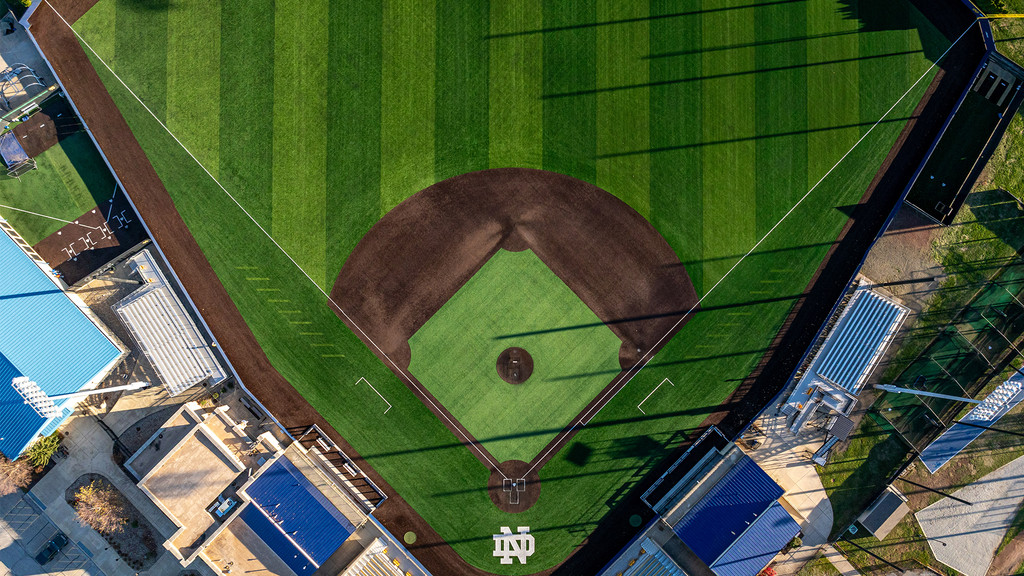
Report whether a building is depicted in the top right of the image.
No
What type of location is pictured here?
sports ground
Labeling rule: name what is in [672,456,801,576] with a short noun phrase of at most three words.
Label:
building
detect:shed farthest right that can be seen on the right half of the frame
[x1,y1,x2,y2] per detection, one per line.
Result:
[857,486,909,541]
